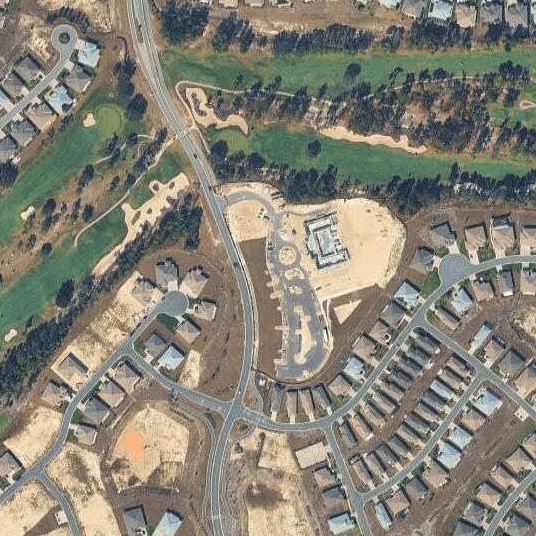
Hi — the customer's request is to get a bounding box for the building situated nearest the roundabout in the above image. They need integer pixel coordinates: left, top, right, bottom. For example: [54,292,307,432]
[304,212,350,267]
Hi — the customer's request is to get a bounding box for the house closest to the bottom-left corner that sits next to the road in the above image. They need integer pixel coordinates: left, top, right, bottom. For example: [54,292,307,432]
[0,451,21,480]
